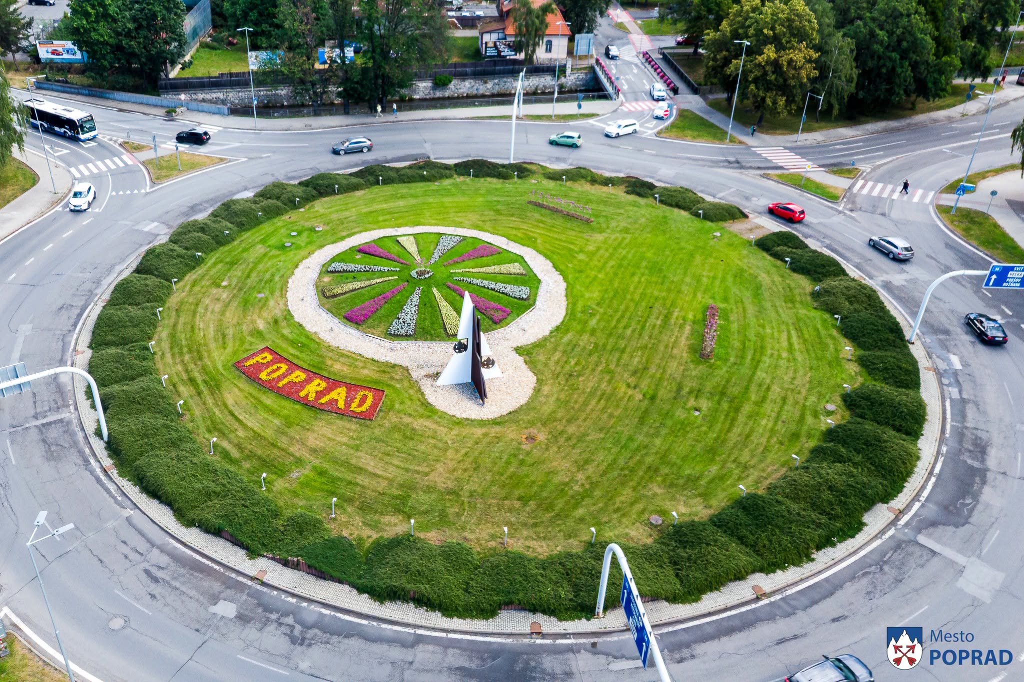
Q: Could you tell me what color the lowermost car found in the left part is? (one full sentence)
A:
The lowermost car found in the left part is white.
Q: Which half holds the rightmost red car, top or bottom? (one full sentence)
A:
The top half of the photo is where the rightmost red car is.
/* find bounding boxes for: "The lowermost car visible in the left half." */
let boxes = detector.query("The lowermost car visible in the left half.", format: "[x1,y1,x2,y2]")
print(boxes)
[66,180,95,208]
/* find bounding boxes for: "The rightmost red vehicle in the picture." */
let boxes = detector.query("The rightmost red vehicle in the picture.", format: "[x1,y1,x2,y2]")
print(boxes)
[768,201,809,222]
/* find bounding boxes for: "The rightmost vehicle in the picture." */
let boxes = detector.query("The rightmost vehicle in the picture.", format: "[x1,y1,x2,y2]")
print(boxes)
[961,312,1015,344]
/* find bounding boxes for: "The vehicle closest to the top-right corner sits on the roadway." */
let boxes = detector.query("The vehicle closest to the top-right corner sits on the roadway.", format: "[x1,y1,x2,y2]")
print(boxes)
[870,235,916,260]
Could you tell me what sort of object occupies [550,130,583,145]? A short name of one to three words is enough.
car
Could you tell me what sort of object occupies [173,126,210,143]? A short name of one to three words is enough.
car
